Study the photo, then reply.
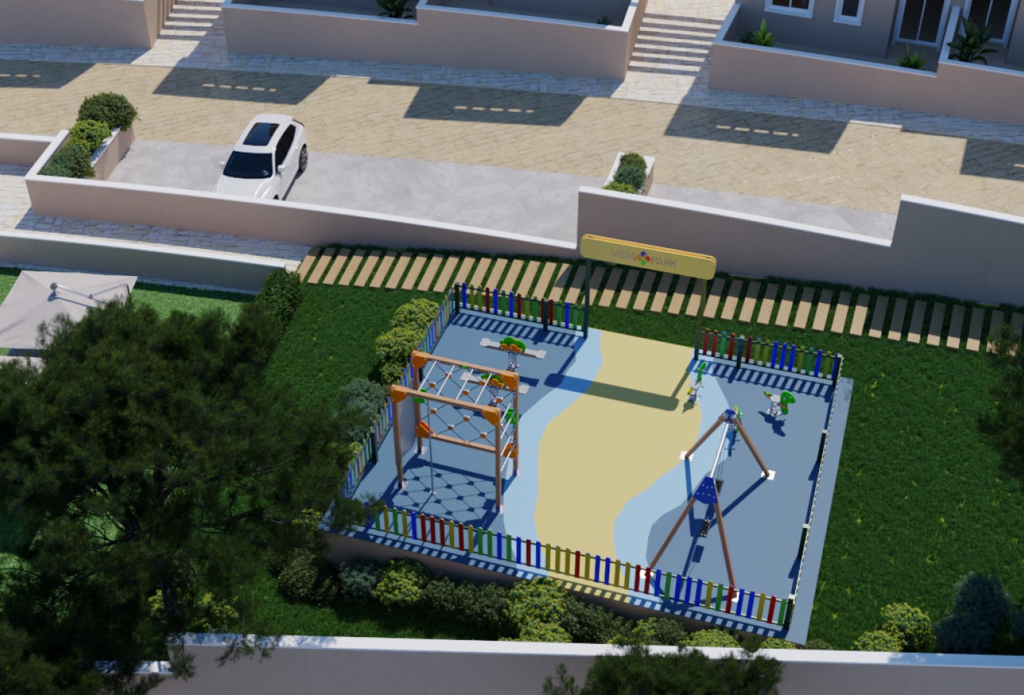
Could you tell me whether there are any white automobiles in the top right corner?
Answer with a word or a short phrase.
No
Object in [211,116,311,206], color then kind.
white car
